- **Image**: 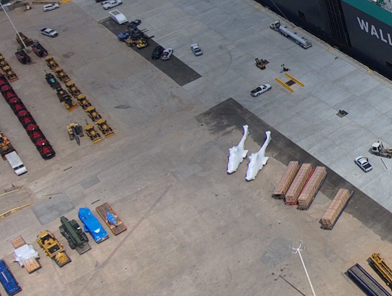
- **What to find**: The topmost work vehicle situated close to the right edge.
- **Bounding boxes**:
[371,138,392,156]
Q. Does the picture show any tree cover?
No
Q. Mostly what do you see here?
paved ground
